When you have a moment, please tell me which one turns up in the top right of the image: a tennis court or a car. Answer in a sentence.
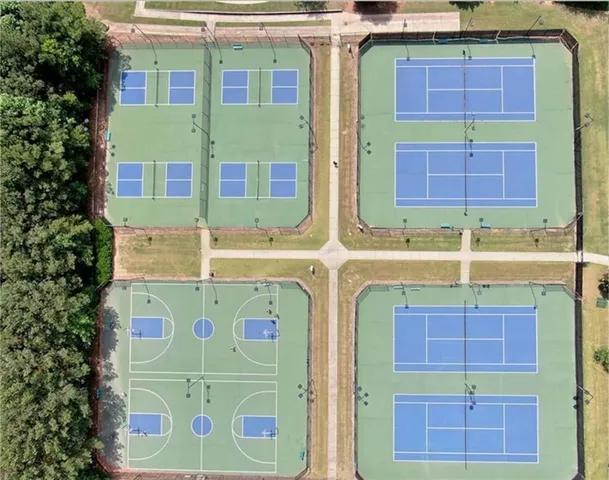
Visible in the top right of the image is a tennis court.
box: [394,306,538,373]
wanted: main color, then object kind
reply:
blue tennis court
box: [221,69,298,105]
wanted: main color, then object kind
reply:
blue sports court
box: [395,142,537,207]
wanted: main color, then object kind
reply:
blue tennis court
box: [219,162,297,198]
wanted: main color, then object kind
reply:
blue sports court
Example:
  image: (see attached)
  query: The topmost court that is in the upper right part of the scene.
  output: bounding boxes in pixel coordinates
[395,57,536,121]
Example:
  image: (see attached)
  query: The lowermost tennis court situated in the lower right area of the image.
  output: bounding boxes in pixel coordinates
[394,394,539,463]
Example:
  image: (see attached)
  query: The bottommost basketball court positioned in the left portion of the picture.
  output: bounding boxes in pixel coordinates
[127,379,277,473]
